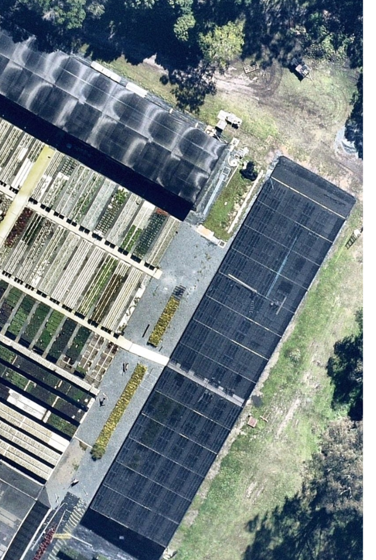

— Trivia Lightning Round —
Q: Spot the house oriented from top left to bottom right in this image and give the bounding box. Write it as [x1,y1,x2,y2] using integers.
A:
[0,18,228,215]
